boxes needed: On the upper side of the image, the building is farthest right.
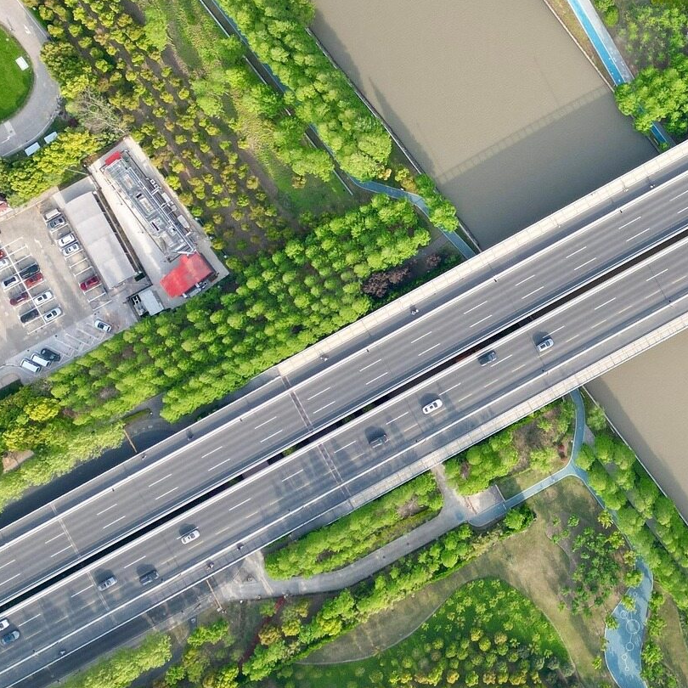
[161,250,223,297]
